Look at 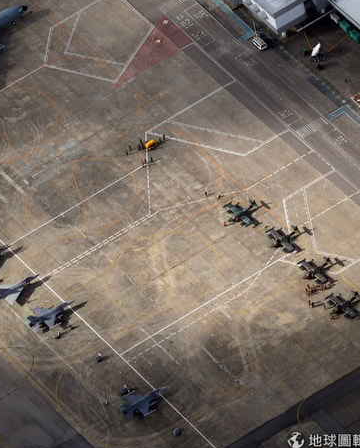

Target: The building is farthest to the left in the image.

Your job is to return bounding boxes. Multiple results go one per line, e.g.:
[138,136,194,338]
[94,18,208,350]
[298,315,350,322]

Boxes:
[236,0,308,35]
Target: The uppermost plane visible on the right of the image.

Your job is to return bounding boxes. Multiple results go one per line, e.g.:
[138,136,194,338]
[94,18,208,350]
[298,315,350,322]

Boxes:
[222,200,256,228]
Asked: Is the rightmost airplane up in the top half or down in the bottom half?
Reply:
bottom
